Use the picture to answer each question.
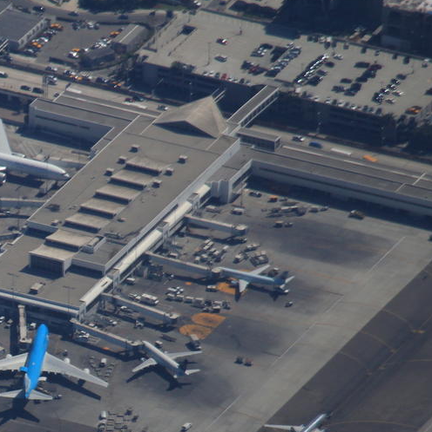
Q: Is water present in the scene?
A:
No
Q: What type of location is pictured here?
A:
airport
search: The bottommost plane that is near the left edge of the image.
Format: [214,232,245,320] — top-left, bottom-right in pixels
[0,326,110,404]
